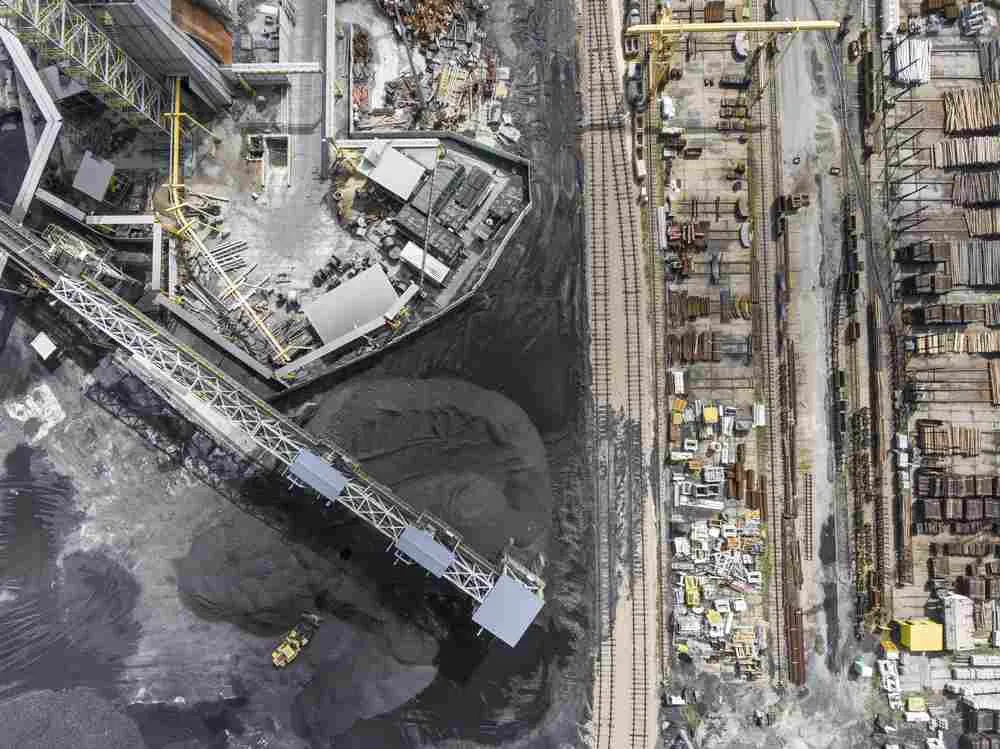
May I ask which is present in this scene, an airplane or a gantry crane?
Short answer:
gantry crane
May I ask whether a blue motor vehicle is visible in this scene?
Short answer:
No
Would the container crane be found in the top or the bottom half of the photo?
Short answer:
top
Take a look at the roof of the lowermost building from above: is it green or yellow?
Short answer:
yellow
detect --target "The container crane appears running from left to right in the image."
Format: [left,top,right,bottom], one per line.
[621,18,845,98]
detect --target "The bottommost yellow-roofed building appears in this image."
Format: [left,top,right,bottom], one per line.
[900,618,943,651]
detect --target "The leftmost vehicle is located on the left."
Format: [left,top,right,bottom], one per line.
[271,614,318,669]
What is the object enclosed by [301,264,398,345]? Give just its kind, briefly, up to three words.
building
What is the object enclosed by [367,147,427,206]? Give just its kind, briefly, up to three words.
shed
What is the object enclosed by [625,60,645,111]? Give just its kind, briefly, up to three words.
vehicle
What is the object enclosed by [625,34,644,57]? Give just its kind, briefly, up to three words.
vehicle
